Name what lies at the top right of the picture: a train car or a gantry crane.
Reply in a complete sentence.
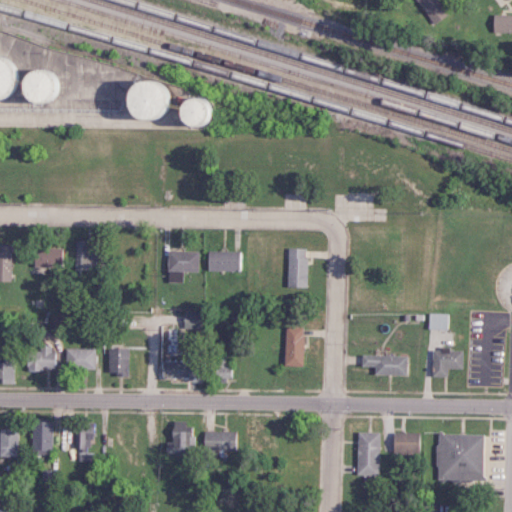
What appears at the top right of the picture is a train car.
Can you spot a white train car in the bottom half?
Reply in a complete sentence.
No, I see no white train car in the bottom half.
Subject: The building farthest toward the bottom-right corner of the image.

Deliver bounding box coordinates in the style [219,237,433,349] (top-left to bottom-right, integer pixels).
[437,434,484,482]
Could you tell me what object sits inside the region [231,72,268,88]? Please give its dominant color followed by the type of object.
white rail car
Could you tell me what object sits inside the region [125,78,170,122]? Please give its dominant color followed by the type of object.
white storage tank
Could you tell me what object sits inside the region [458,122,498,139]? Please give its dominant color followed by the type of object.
white rail car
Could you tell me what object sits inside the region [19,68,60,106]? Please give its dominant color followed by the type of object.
white storage tank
